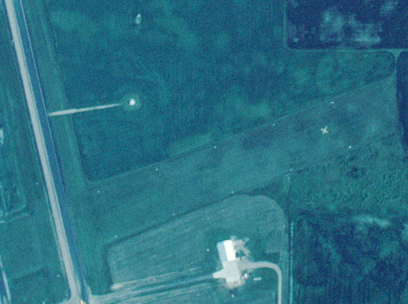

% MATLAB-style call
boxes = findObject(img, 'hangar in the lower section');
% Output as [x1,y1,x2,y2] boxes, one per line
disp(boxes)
[217,241,236,263]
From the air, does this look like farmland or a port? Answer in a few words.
farmland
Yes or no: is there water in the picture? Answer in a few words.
No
